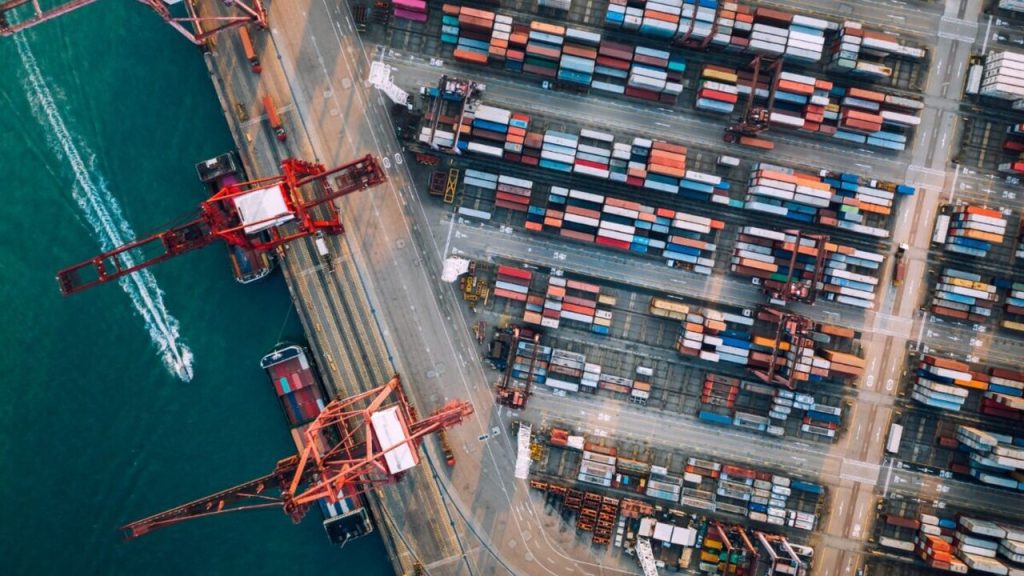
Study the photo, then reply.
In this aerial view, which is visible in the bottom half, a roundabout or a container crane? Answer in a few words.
container crane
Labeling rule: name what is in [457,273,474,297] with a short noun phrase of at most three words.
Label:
work vehicle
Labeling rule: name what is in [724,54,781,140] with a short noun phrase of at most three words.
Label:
container crane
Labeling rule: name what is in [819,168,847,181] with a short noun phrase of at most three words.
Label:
vehicle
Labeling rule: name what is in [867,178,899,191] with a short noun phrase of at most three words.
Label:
vehicle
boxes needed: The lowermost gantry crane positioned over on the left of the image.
[118,369,476,540]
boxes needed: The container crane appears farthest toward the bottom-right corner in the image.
[757,531,807,576]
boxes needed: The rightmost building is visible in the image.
[642,520,700,549]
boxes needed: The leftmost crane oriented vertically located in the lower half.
[497,324,545,407]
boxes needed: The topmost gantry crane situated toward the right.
[674,0,722,54]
